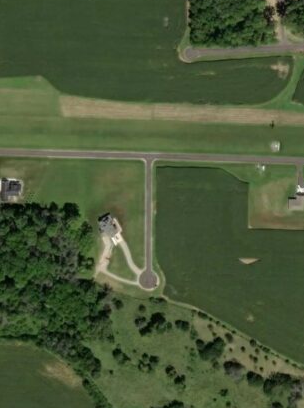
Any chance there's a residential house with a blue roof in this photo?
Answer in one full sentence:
No, there is no residential house with a blue roof in the image.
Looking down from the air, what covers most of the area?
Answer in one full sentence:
The scene is dominated by farmland.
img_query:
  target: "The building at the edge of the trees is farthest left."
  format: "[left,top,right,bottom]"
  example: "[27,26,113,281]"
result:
[0,181,22,203]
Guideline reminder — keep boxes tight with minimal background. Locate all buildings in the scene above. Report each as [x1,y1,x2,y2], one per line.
[288,195,304,211]
[98,215,121,240]
[0,181,22,203]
